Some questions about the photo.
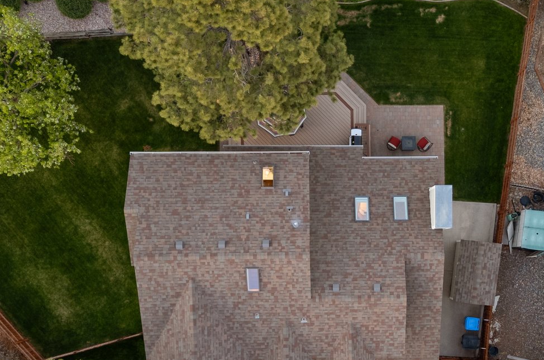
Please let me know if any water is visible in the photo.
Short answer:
No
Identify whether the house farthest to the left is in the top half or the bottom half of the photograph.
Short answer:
bottom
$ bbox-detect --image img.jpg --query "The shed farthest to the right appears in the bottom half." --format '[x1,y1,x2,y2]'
[503,205,544,255]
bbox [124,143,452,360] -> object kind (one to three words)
house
